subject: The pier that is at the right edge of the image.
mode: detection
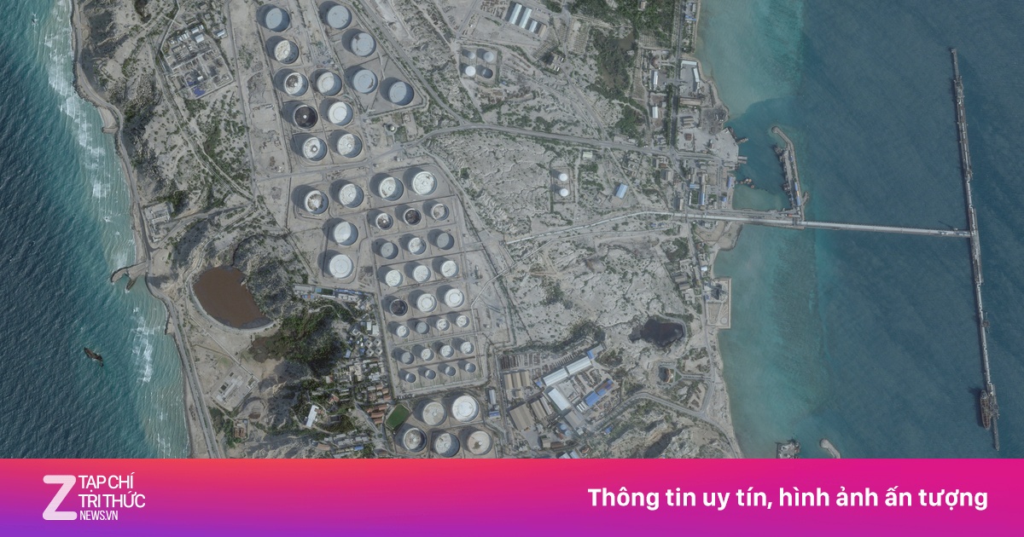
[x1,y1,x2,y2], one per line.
[952,48,998,449]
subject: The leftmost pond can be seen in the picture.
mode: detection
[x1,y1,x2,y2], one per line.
[193,266,270,328]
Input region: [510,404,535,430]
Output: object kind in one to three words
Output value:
building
